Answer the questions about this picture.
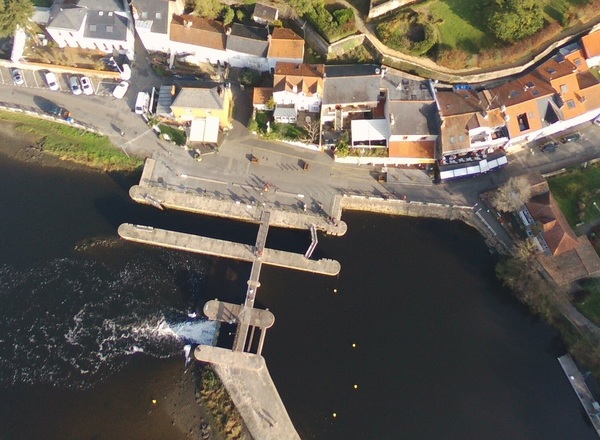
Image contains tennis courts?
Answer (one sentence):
No, I can't see a single tennis court in this photo.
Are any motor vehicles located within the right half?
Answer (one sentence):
Yes, I can see a motor vehicle within the right half.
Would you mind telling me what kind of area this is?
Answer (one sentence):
It's a residential area.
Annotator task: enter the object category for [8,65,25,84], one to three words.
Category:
car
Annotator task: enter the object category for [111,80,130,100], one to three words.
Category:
car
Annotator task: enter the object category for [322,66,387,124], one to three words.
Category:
house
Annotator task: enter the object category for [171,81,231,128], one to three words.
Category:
house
